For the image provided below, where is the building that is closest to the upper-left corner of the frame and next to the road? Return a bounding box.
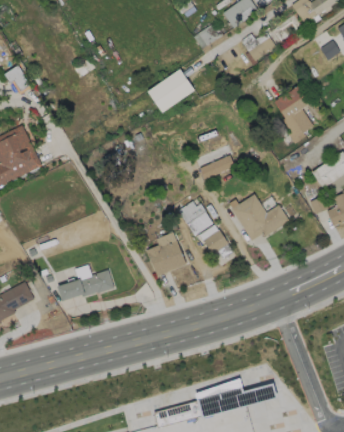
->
[5,66,30,92]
